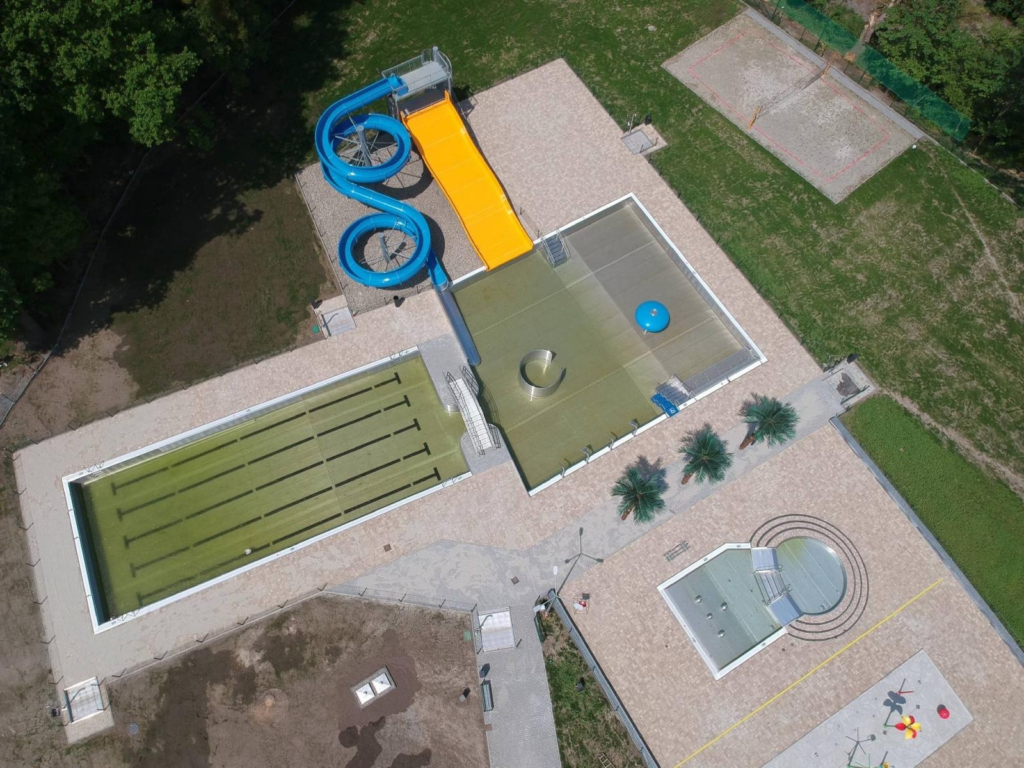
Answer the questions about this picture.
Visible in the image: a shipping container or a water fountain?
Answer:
water fountain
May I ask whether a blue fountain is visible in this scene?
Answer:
Yes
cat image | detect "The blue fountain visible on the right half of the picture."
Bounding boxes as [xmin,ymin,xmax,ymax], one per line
[634,302,670,343]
